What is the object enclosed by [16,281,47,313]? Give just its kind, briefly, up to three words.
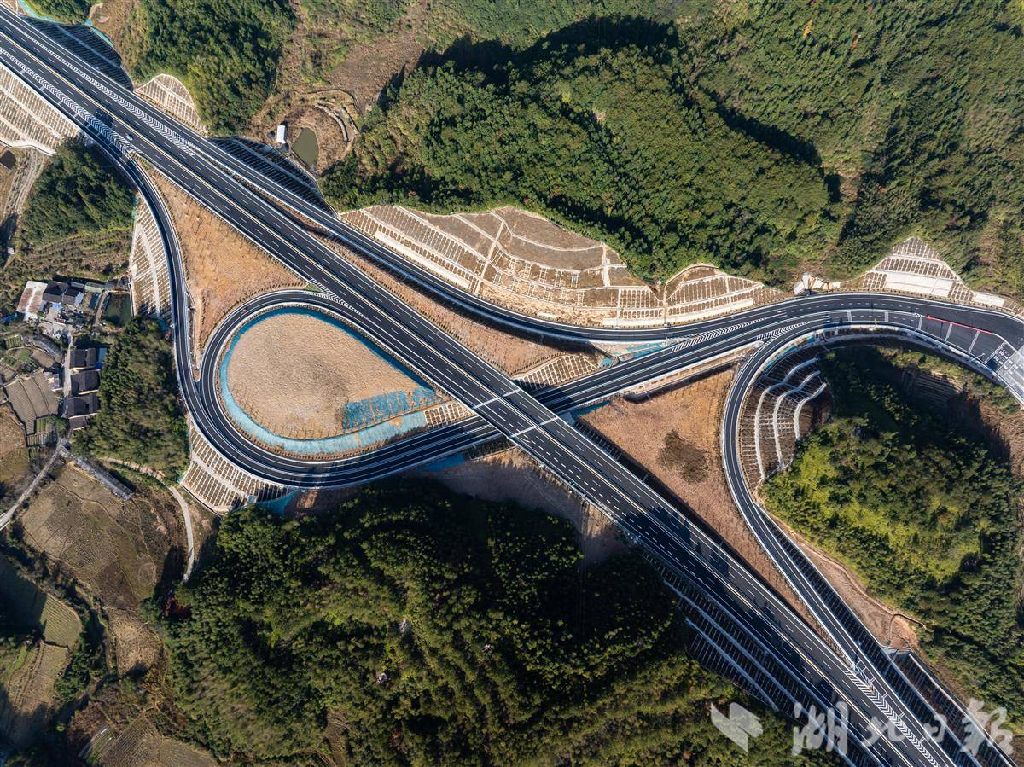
shed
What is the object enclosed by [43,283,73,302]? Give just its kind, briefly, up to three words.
house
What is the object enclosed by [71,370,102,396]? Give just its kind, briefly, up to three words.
house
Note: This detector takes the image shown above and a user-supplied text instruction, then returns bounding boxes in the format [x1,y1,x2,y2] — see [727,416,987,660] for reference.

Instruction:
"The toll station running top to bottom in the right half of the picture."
[997,346,1024,402]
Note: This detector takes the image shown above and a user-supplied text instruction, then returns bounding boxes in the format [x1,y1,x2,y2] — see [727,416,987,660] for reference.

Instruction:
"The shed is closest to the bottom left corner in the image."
[61,449,135,501]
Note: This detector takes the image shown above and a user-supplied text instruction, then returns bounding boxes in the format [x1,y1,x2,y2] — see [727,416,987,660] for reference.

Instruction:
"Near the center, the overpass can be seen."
[473,381,558,448]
